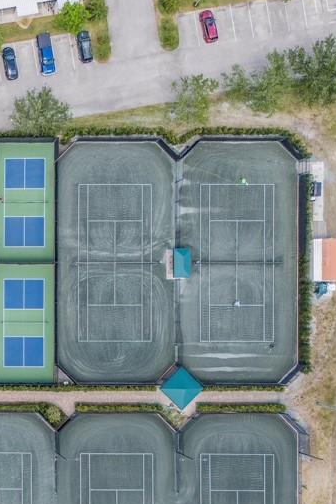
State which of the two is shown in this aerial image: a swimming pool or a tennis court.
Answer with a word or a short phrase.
tennis court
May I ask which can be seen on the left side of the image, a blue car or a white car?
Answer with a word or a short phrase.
blue car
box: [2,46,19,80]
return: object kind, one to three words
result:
car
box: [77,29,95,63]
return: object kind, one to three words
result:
car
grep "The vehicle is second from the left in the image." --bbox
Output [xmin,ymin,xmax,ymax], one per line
[38,32,58,75]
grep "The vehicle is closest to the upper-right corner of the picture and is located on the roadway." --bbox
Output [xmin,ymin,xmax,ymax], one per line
[201,9,220,43]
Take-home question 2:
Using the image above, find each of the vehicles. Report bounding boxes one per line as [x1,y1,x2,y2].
[201,9,220,43]
[2,46,19,80]
[38,32,58,75]
[77,29,95,63]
